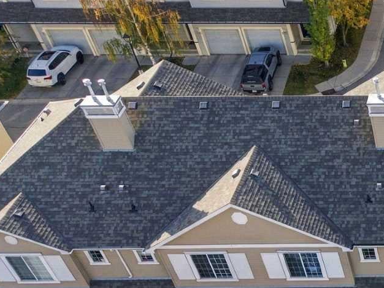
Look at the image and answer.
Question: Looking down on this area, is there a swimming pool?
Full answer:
No, there isn't any swimming pool down there.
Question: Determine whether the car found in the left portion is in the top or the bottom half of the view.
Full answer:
The car found in the left portion sits in the top half of the picture.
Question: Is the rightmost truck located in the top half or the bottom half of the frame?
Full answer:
The top half of the photo is where the rightmost truck is.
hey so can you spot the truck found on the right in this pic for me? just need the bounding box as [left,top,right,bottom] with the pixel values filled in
[239,48,281,94]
